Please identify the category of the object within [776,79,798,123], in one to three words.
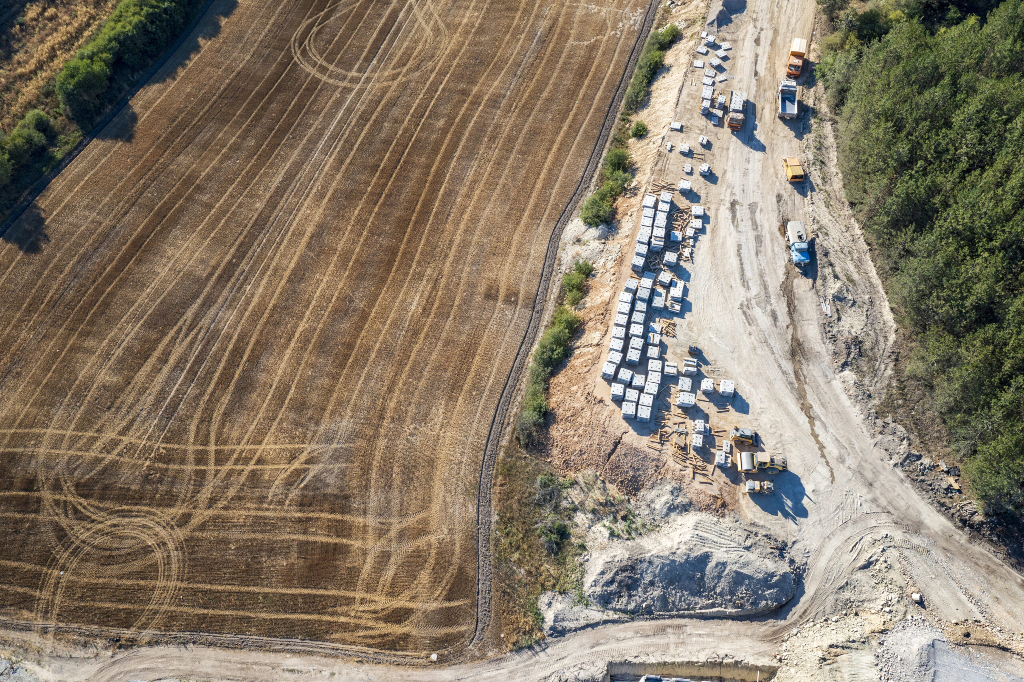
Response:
truck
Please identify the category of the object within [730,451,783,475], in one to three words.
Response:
work vehicle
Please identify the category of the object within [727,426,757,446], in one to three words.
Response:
work vehicle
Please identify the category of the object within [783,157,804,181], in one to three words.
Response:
truck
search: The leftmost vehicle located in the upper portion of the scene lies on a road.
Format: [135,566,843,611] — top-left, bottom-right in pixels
[726,89,751,131]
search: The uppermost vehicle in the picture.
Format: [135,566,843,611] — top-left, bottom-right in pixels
[785,38,806,77]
